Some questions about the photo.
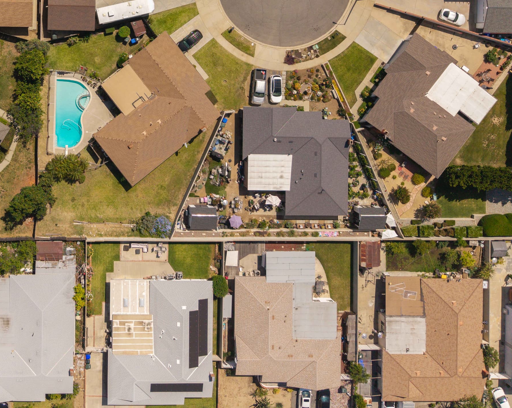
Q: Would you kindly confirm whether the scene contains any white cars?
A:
Yes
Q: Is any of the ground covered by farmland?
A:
No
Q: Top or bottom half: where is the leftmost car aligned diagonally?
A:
top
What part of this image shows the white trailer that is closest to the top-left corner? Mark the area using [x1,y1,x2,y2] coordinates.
[96,0,155,25]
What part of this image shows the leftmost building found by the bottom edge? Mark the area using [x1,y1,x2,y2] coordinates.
[0,259,75,405]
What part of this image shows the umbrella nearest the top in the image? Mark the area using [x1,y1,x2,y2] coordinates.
[265,191,282,207]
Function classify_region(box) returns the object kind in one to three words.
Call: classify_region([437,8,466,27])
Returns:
car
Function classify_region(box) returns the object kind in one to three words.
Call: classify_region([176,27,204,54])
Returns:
car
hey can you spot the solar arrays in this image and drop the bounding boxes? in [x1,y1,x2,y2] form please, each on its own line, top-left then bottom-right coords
[189,310,199,368]
[199,298,208,356]
[150,383,203,392]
